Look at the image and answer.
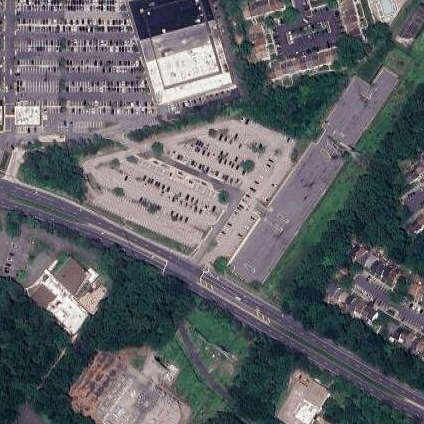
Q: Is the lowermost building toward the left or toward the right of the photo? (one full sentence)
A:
It is on the right.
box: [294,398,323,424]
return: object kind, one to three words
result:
building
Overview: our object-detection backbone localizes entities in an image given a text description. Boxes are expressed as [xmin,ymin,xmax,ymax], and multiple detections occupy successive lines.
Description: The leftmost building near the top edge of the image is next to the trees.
[129,0,237,106]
